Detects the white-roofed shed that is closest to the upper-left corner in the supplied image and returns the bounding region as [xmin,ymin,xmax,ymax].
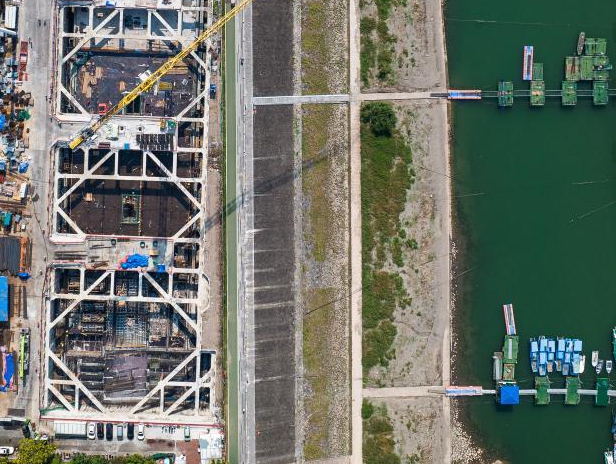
[5,6,19,29]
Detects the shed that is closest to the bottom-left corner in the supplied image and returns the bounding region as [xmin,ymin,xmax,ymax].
[55,418,88,437]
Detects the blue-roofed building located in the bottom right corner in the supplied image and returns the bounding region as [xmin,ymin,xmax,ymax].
[498,385,519,406]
